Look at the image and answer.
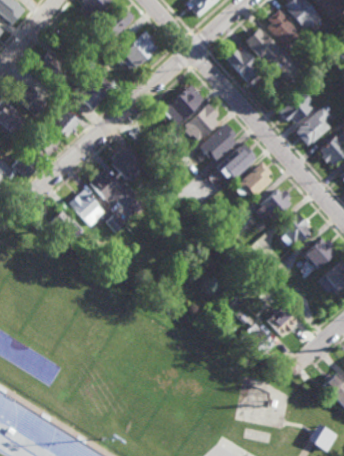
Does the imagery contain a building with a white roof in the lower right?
Yes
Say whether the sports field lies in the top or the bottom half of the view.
bottom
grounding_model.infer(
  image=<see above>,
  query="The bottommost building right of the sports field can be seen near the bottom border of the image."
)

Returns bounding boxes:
[309,426,338,453]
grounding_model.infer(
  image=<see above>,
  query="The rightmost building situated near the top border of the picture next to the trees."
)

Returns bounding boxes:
[282,0,322,32]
